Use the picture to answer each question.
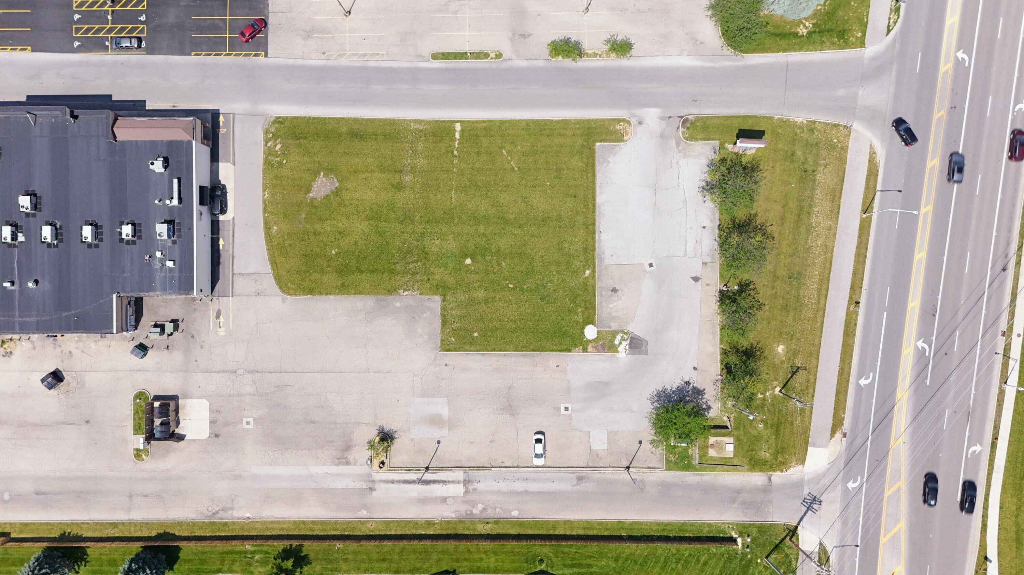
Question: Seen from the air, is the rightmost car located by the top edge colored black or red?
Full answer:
The rightmost car located by the top edge looks red in the image.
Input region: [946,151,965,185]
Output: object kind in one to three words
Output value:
car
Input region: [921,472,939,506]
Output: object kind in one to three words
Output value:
car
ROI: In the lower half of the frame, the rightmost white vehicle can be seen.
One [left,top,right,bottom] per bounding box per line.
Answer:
[532,433,546,466]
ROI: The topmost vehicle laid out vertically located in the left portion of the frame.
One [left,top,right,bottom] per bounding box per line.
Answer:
[212,184,228,217]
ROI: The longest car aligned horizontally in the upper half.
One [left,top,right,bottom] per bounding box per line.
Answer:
[110,35,143,51]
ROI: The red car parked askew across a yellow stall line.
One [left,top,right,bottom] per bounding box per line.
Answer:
[236,17,268,45]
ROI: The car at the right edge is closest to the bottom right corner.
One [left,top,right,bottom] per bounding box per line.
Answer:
[958,480,977,513]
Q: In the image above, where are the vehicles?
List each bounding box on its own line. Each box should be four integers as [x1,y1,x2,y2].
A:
[212,184,228,217]
[532,433,546,466]
[958,480,977,513]
[921,472,939,506]
[946,151,965,185]
[110,35,143,51]
[236,17,268,45]
[1007,128,1024,162]
[891,117,917,148]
